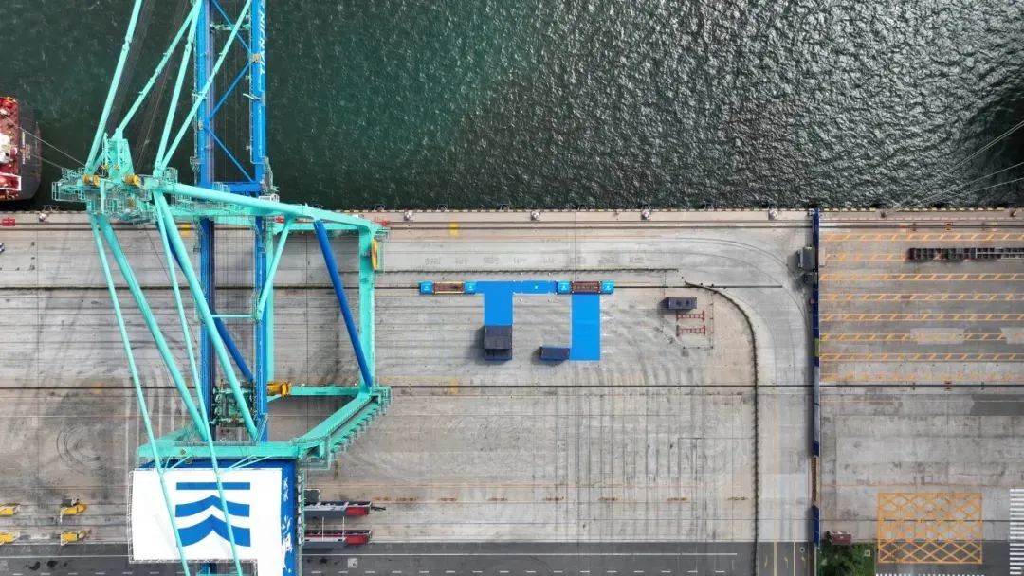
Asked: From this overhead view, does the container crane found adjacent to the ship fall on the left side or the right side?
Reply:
left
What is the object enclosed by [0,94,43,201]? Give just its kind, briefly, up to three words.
ship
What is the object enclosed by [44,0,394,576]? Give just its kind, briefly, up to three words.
container crane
